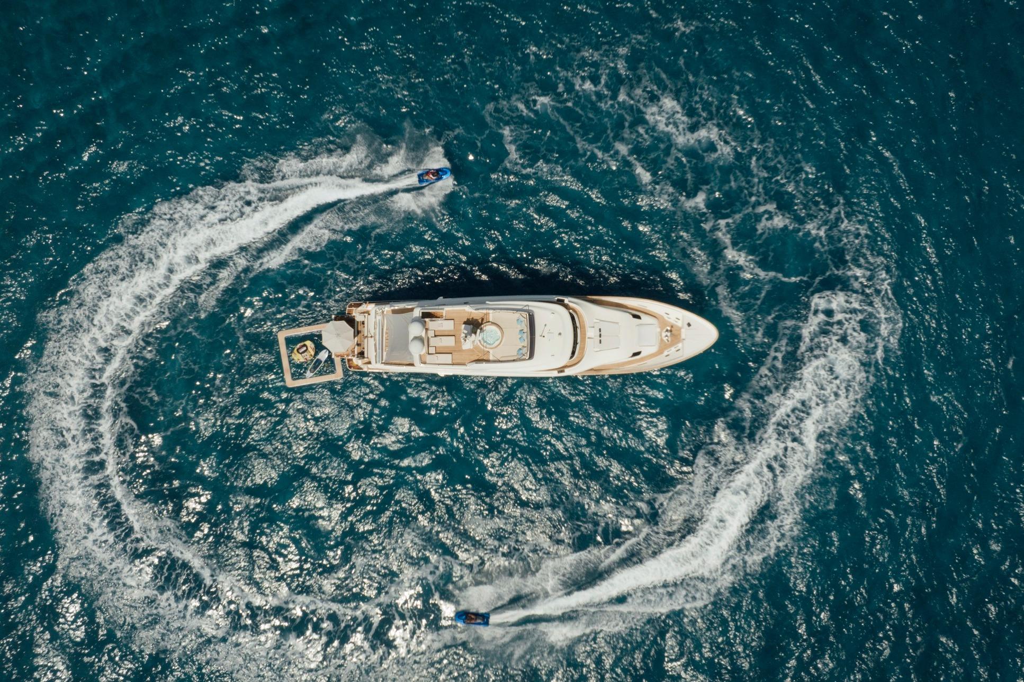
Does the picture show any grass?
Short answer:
No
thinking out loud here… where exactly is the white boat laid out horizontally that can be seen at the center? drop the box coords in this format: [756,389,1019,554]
[332,295,719,377]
